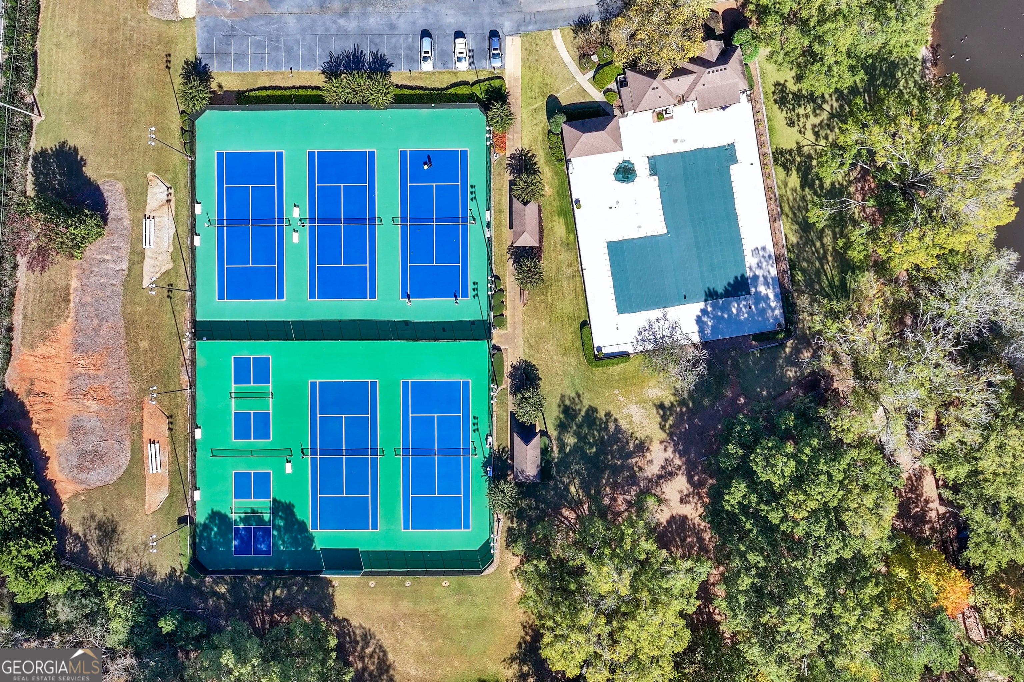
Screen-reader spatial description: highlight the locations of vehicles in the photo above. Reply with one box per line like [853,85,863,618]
[454,38,469,70]
[489,38,503,66]
[419,39,434,70]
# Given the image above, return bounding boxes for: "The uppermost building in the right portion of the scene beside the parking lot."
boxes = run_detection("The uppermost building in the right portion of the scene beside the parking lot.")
[621,40,749,114]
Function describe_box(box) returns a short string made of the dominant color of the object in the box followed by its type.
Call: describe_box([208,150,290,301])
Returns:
blue tennis court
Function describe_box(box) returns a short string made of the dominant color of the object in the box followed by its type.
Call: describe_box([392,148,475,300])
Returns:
blue tennis court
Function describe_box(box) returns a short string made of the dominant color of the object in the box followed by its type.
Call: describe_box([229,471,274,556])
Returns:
blue sports court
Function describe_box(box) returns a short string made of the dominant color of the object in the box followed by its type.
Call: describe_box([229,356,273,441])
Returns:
blue sports court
